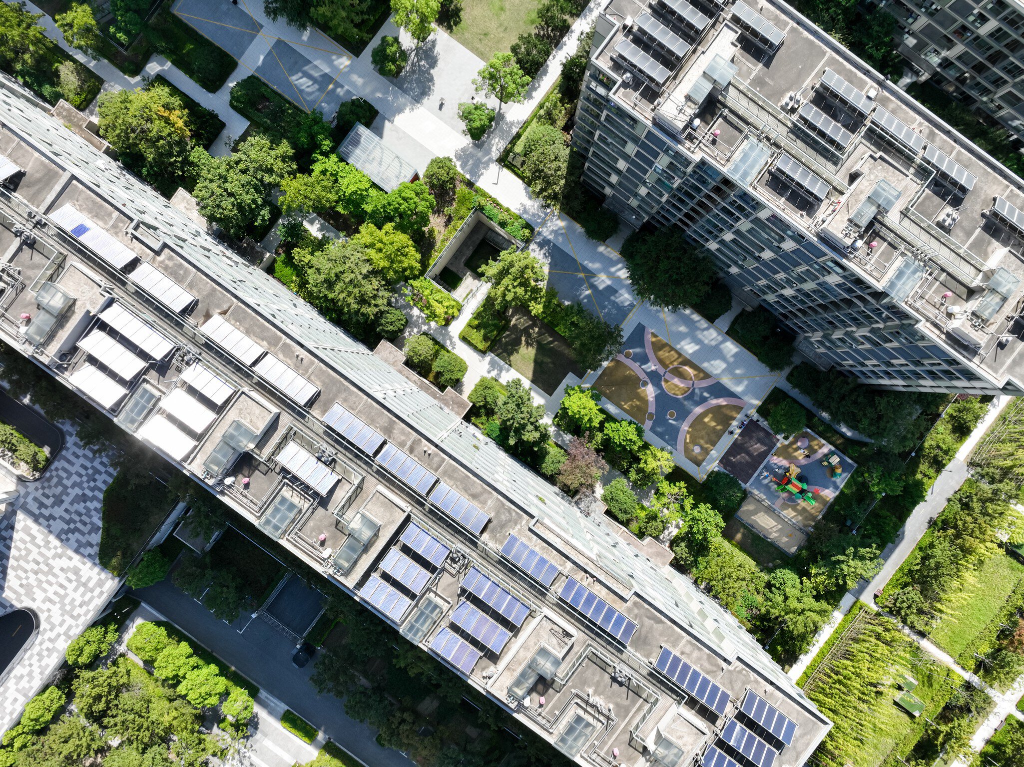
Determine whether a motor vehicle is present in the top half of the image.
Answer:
No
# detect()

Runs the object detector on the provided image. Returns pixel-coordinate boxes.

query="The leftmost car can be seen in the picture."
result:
[291,642,316,672]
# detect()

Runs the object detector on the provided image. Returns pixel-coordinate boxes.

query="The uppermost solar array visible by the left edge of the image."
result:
[0,154,26,186]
